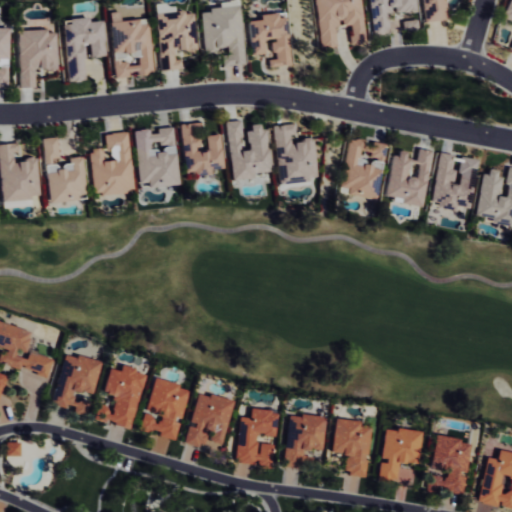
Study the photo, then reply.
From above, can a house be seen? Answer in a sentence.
Yes, you can see a house in this photo.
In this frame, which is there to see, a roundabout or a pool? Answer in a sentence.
Visible in the photo is a pool.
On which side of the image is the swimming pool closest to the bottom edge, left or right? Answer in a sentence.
The swimming pool closest to the bottom edge is on the left side of the image.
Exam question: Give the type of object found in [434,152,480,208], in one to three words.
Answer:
house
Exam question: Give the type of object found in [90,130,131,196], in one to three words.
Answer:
house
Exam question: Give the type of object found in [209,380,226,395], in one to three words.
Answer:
swimming pool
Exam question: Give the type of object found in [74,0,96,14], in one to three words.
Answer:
swimming pool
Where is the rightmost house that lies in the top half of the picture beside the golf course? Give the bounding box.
[478,170,512,226]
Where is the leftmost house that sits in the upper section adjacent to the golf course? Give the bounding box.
[0,142,39,208]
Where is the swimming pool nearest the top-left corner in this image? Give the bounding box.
[24,4,50,20]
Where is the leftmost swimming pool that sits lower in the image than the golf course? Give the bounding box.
[20,458,43,487]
